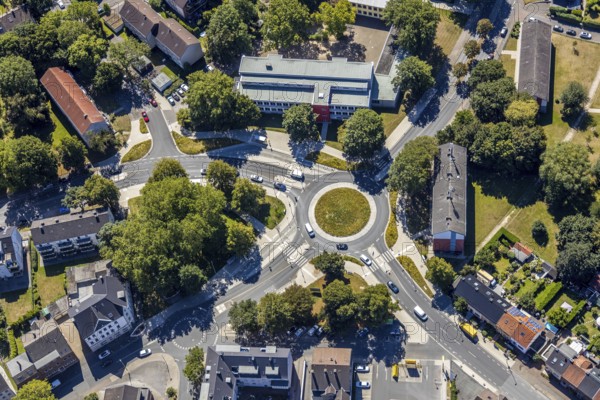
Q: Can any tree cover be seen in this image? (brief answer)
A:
Yes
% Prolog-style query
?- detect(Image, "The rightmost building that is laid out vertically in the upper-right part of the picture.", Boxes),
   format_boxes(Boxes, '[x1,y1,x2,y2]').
[510,23,549,120]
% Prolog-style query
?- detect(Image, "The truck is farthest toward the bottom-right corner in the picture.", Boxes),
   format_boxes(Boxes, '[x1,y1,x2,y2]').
[458,317,479,339]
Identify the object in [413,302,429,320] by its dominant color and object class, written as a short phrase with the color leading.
white vehicle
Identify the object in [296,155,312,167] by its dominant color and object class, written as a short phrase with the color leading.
blue vehicle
